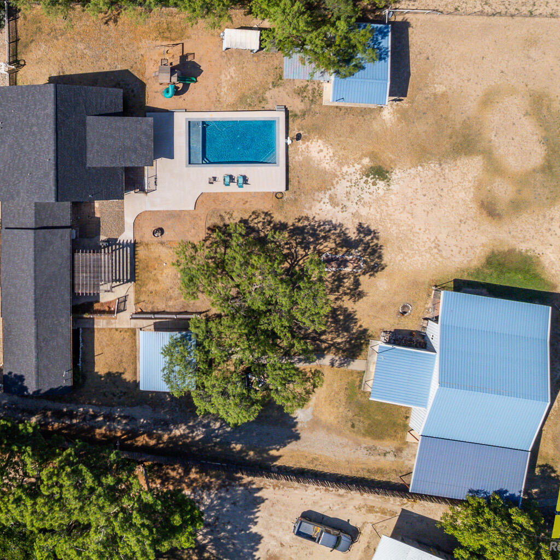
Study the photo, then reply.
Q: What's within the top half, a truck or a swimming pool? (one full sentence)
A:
It is a swimming pool that can be seen within the top half.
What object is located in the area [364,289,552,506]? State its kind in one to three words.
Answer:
barn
